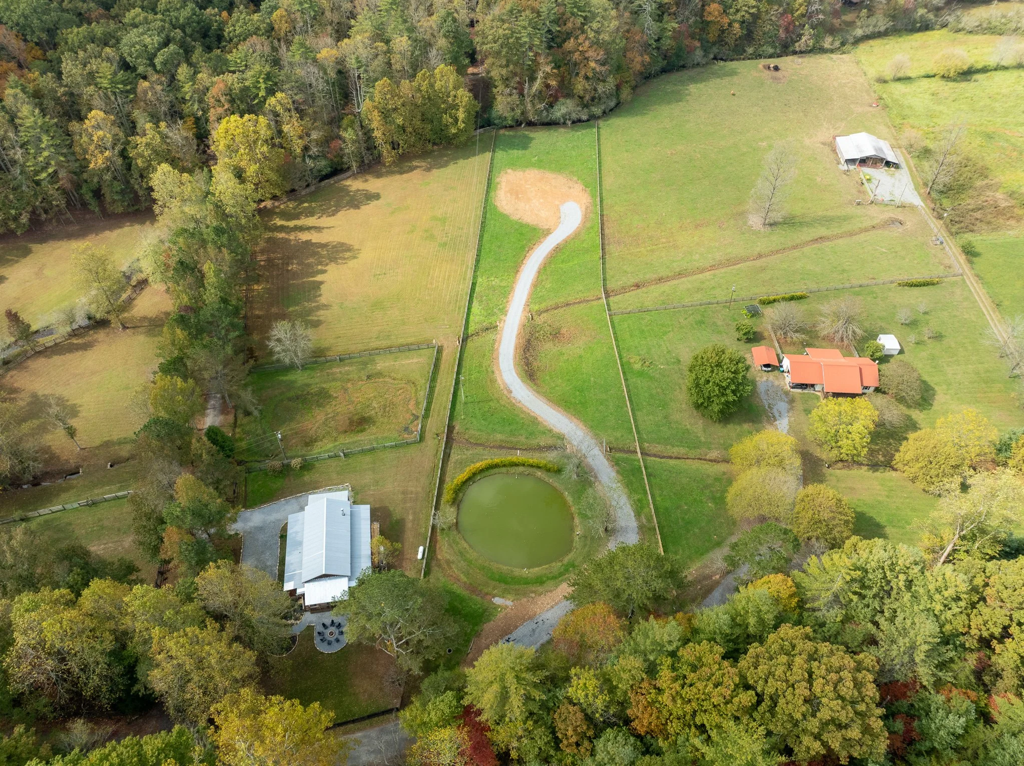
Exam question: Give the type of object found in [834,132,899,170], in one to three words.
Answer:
barn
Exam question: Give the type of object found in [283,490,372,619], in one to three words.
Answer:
house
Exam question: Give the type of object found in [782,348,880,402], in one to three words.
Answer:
house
